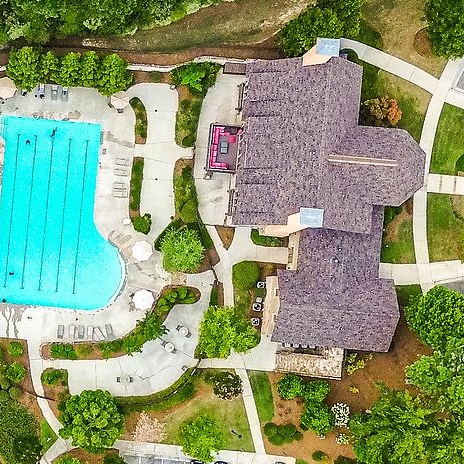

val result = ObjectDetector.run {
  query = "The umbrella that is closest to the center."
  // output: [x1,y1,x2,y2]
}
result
[131,241,152,262]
